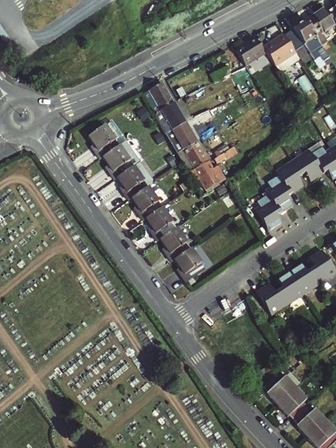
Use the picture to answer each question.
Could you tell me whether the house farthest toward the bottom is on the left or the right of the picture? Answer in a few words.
right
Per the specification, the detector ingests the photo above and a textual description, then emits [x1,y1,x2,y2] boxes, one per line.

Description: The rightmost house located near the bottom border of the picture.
[298,405,336,448]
